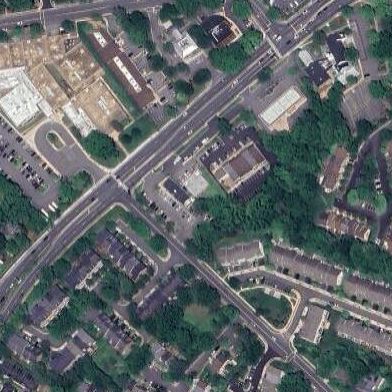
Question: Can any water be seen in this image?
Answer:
No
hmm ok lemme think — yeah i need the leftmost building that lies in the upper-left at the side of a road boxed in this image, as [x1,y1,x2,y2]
[0,36,136,137]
